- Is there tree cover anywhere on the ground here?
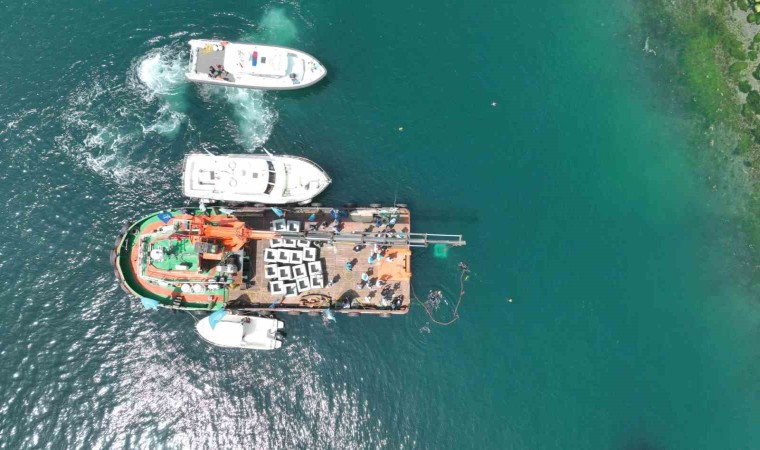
No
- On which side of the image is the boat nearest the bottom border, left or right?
left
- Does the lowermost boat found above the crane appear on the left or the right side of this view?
left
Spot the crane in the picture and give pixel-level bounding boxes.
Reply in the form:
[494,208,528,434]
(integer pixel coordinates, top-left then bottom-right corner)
[190,215,466,262]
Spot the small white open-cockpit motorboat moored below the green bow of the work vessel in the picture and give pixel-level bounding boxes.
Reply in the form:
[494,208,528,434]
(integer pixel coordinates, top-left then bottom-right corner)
[195,316,286,349]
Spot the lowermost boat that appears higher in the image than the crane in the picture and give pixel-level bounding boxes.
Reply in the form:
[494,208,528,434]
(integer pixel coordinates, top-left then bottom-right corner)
[186,148,330,205]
